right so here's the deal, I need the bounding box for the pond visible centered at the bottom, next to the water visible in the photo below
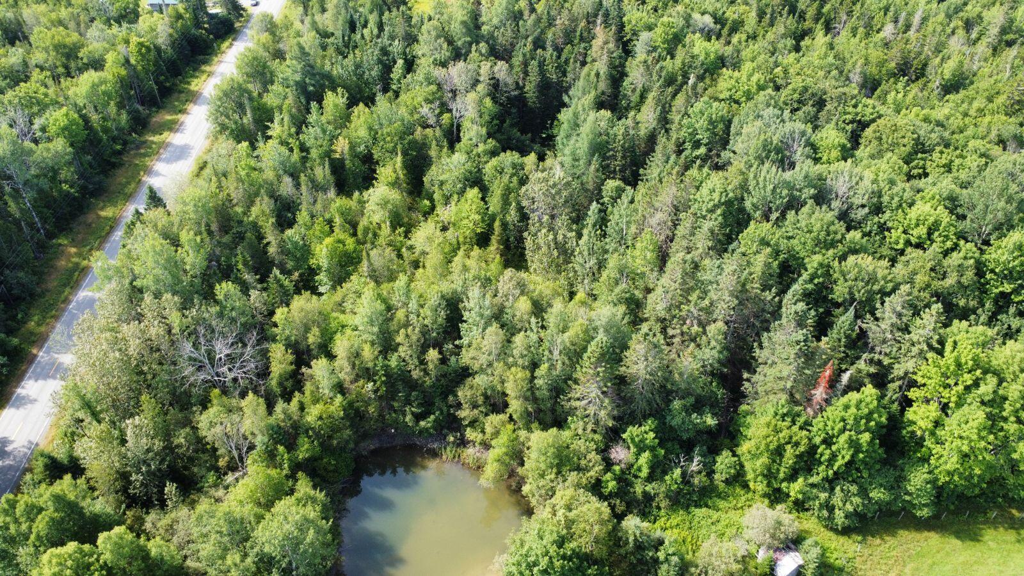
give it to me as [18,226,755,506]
[337,448,528,576]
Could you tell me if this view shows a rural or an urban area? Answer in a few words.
rural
